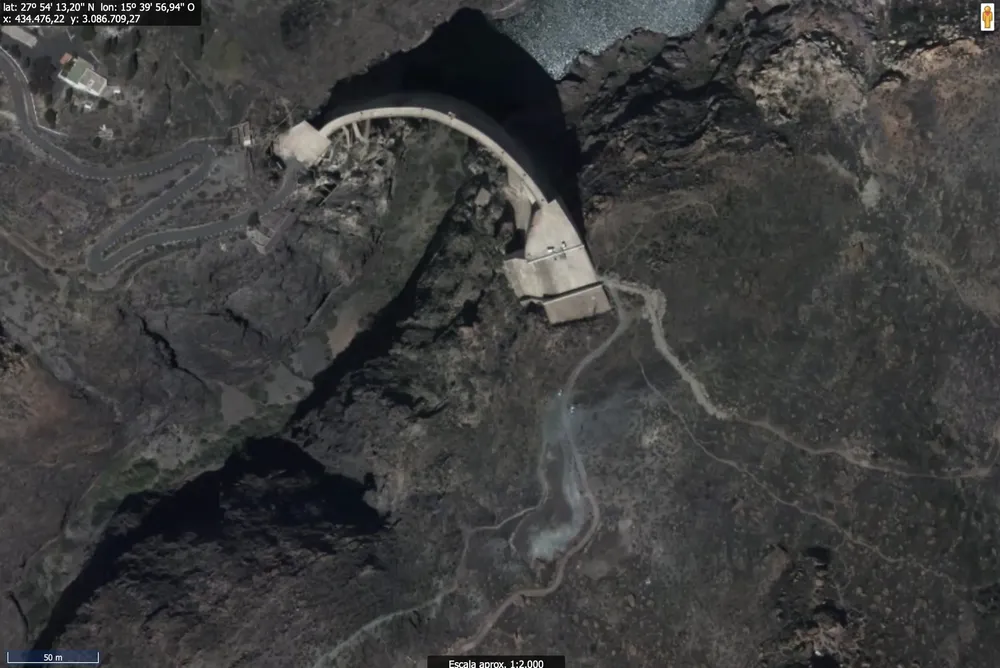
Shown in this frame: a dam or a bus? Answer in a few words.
dam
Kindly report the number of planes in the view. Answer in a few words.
zero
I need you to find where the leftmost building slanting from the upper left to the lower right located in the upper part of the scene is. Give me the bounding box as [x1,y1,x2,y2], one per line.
[0,19,38,48]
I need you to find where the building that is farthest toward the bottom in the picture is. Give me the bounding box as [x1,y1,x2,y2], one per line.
[545,286,611,324]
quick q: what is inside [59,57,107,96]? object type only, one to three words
house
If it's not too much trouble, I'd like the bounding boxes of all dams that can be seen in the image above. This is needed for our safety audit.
[317,97,603,304]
